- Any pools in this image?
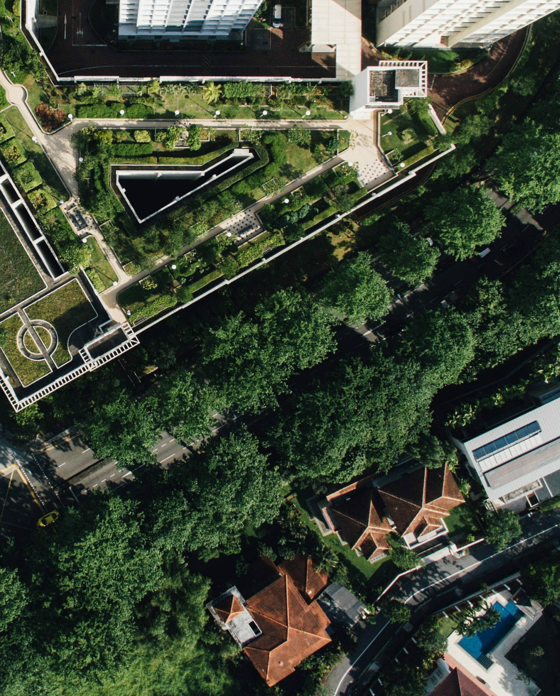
Yes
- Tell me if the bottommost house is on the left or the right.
right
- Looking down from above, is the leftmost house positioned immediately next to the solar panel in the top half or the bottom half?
bottom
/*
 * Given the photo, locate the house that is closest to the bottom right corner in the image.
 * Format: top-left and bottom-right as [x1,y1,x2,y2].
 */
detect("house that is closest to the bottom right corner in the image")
[423,654,492,696]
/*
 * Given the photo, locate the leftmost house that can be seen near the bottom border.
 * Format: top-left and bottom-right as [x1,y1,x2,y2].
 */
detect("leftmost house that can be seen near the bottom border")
[204,549,332,689]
